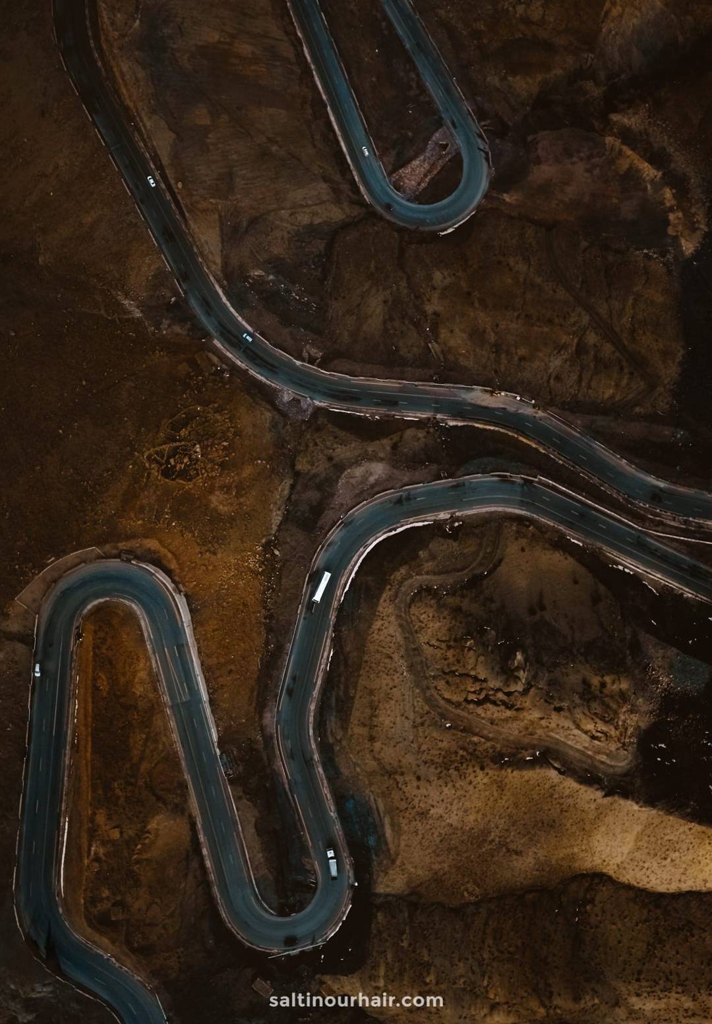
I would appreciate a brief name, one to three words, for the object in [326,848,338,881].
vehicle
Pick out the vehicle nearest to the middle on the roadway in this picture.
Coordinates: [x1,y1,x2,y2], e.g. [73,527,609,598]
[312,571,331,604]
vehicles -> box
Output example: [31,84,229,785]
[242,333,253,343]
[312,571,331,604]
[326,848,338,881]
[34,664,40,677]
[147,175,155,187]
[362,145,369,157]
